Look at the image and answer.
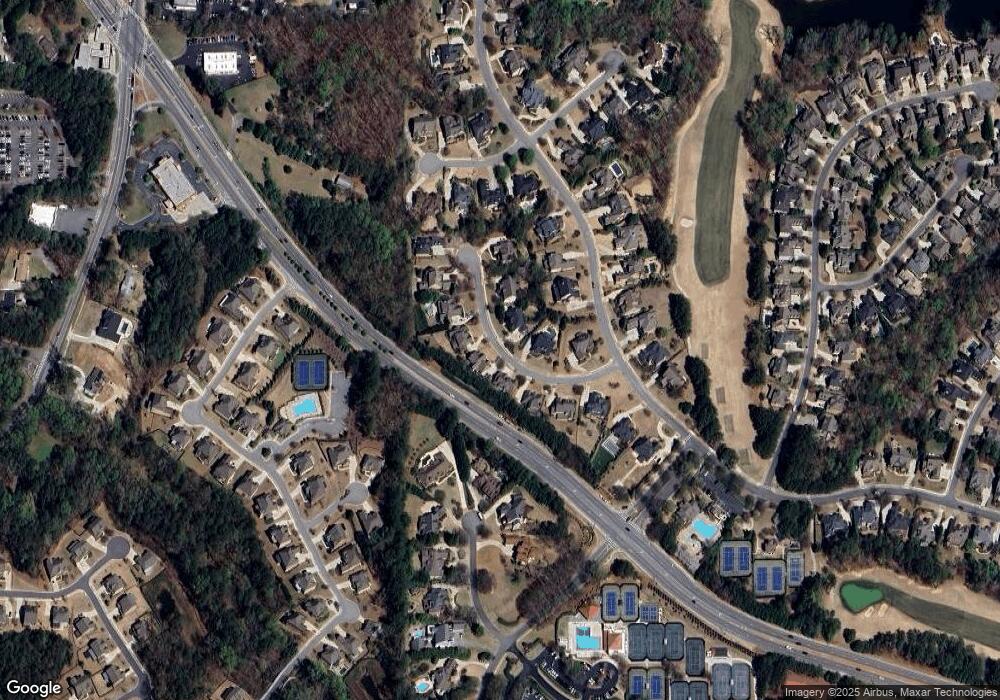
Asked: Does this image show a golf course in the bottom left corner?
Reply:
No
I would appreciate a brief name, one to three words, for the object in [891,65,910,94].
house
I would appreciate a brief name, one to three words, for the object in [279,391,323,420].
swimming pool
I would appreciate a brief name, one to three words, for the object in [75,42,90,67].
building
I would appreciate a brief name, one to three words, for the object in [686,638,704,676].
tennis court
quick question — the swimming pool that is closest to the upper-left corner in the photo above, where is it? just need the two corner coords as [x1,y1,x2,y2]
[120,316,135,338]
